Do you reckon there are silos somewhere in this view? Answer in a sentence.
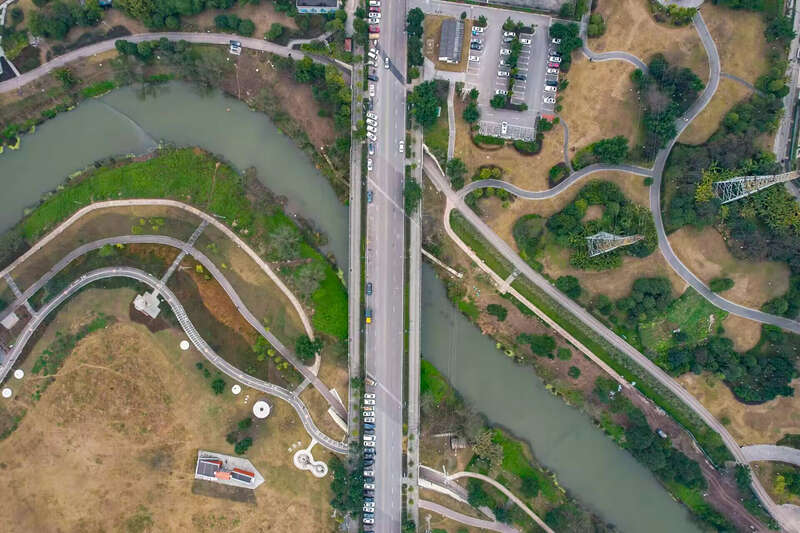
No, the photo shows no silo.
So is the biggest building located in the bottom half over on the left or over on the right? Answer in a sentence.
The biggest building located in the bottom half sits on the left side.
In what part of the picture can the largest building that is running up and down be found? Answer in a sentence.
The largest building that is running up and down is in the top part of the image.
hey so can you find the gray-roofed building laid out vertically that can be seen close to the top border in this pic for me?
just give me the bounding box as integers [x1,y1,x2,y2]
[438,20,464,66]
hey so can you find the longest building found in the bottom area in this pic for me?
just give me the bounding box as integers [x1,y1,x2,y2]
[194,449,265,490]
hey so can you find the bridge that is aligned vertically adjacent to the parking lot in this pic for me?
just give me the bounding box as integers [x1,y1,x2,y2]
[347,142,423,533]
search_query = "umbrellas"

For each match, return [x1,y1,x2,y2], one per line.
[180,340,189,349]
[14,370,25,378]
[2,388,12,398]
[231,385,241,394]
